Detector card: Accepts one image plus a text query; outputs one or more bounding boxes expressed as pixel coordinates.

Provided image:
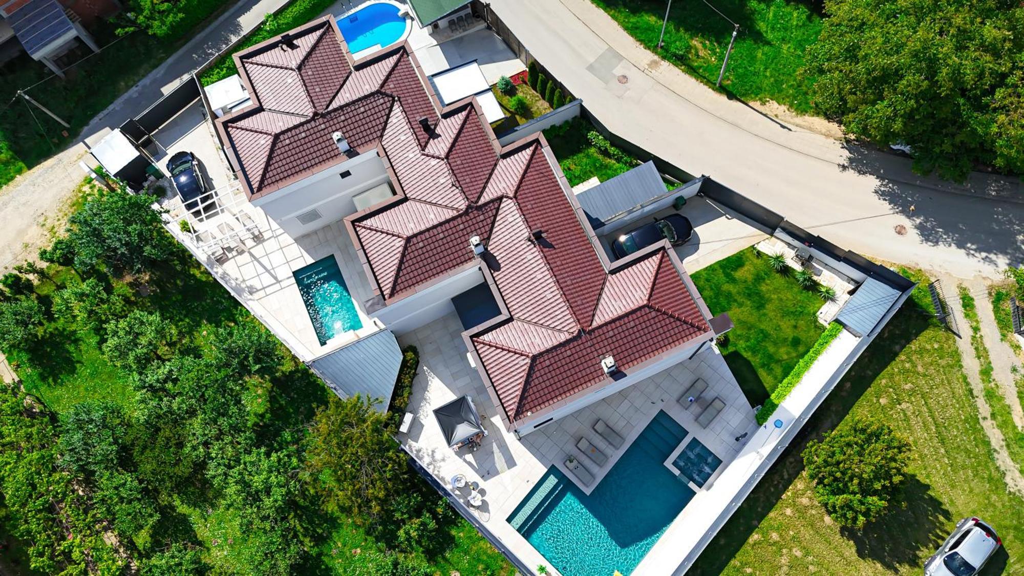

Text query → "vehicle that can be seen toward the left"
[165,148,211,214]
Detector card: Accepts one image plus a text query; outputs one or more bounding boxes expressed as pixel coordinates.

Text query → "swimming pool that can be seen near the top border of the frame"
[333,0,410,61]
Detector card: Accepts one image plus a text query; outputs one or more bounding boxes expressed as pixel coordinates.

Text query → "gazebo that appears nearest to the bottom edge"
[433,394,491,447]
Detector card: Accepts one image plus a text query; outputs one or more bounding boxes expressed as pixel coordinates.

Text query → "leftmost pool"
[293,255,359,346]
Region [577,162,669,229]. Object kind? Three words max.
shed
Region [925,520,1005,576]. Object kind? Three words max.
car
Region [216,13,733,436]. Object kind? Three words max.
house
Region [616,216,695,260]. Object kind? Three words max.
car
